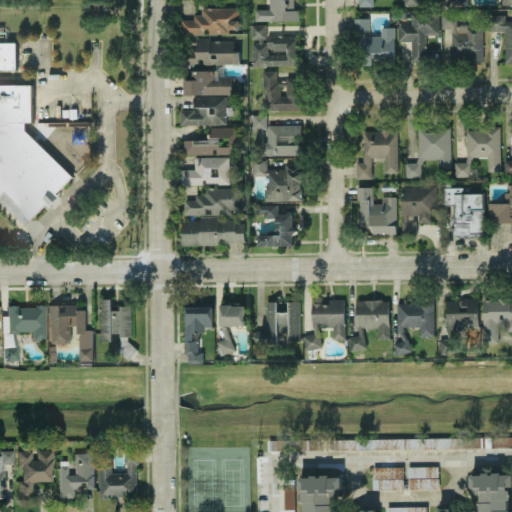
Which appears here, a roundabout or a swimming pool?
swimming pool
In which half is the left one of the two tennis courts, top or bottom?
bottom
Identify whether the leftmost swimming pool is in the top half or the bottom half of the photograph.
bottom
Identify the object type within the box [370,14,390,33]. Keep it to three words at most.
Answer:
swimming pool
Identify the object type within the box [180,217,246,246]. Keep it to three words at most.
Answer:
house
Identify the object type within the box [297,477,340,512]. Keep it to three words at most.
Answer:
building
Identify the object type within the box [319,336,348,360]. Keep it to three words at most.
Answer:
swimming pool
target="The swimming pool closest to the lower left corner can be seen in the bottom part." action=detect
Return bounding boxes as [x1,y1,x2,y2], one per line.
[114,454,126,470]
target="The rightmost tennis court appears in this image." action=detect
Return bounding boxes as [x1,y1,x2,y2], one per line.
[220,448,250,512]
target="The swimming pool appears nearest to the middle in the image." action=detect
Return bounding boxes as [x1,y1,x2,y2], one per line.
[254,218,275,234]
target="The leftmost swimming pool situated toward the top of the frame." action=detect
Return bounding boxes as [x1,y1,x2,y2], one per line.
[217,64,247,82]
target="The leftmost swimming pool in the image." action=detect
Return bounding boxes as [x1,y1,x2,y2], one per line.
[18,335,48,362]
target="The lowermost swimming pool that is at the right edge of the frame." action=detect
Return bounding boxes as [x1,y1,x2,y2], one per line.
[489,184,509,203]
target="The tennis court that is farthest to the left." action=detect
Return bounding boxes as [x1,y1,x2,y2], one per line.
[188,448,220,512]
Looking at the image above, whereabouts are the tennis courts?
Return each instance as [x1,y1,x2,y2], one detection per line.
[188,448,220,512]
[220,448,250,512]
